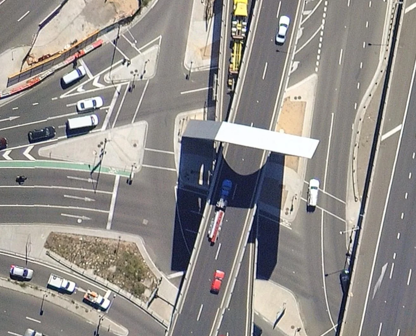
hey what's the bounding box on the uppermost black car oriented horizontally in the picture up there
[28,126,56,142]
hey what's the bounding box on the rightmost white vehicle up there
[306,178,320,208]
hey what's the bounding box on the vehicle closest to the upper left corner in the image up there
[59,65,88,87]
